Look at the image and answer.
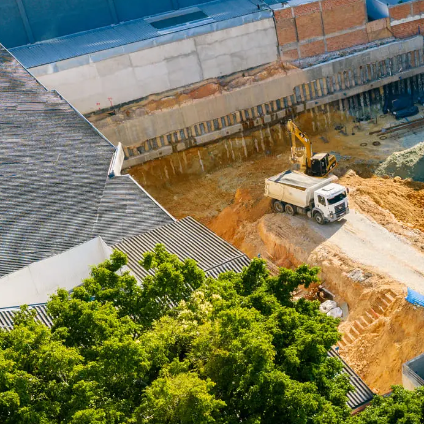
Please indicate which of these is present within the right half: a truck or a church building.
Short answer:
truck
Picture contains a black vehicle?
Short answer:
No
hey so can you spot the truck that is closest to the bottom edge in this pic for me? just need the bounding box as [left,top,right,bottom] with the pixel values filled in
[257,167,349,224]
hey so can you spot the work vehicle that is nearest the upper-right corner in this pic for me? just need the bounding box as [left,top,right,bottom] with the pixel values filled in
[283,120,347,176]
